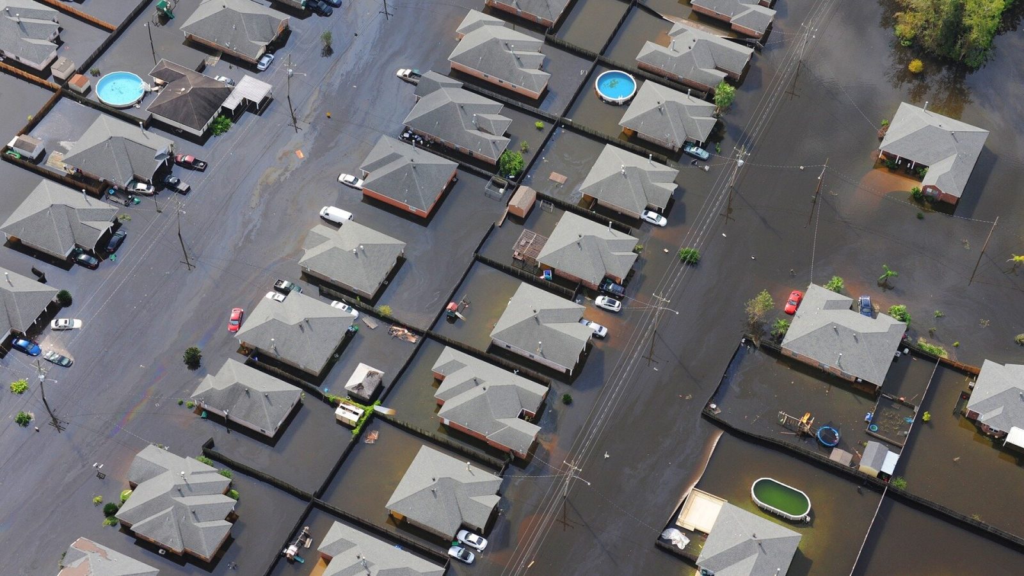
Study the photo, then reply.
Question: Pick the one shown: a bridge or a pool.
pool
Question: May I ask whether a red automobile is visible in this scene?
Yes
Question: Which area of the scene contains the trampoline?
bottom right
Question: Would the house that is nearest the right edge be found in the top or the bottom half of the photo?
bottom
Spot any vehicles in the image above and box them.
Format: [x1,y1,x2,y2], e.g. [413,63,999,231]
[682,146,710,161]
[859,294,874,317]
[71,254,102,270]
[270,278,305,295]
[785,291,802,315]
[43,352,75,371]
[307,1,333,16]
[174,157,207,175]
[639,211,668,228]
[593,295,624,313]
[126,183,156,198]
[161,176,194,196]
[103,231,129,254]
[228,308,243,334]
[12,339,42,357]
[212,74,237,87]
[51,318,82,332]
[581,319,609,338]
[597,282,628,299]
[337,176,365,193]
[261,290,286,303]
[455,531,489,552]
[331,300,359,320]
[446,547,478,566]
[255,53,277,73]
[319,206,354,224]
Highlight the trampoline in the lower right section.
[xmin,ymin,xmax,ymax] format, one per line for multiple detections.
[816,427,838,450]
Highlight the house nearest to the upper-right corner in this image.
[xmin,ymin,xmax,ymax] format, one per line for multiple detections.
[877,101,989,207]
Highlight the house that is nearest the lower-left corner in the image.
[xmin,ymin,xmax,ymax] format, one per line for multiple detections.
[60,536,159,576]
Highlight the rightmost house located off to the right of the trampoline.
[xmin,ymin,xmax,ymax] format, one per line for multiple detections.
[963,358,1024,441]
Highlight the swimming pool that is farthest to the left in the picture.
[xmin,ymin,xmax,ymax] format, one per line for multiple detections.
[97,71,151,113]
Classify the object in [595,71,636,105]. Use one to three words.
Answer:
swimming pool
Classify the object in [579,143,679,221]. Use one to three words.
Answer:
house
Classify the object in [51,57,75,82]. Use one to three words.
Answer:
shed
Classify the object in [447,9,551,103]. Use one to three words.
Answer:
house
